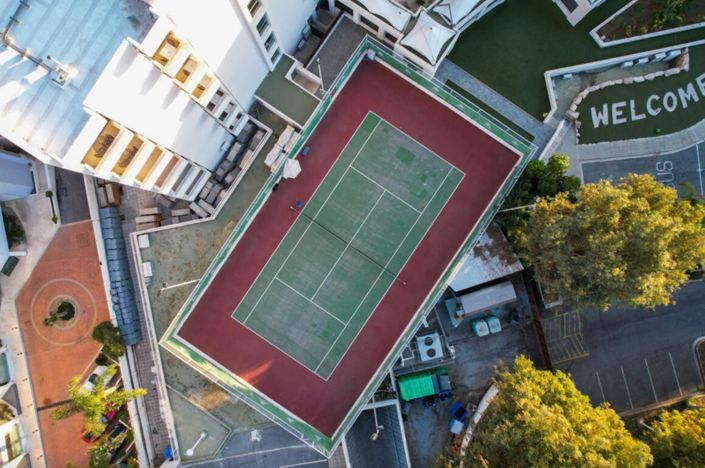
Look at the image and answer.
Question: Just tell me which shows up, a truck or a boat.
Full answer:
The one in the frame is a truck.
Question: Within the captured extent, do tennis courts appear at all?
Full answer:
Yes, looking at the shot, I can spot a tennis court.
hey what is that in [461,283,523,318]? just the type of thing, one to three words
building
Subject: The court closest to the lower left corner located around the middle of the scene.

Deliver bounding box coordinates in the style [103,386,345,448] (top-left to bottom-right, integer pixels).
[175,50,523,443]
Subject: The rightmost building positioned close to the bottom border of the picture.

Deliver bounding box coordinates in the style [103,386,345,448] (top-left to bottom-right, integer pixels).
[339,397,413,468]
